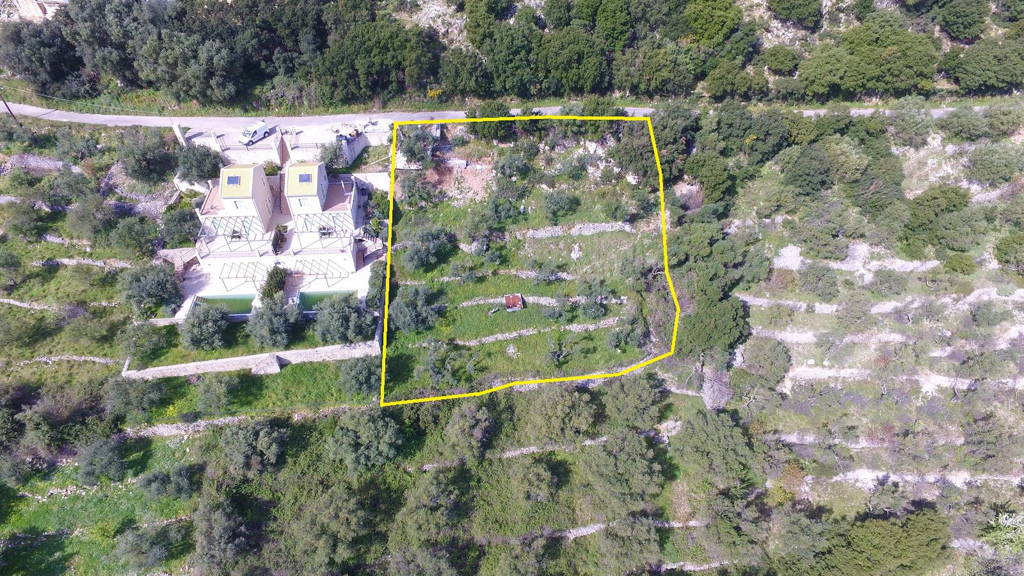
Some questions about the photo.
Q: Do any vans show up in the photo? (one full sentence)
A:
Yes, the photo shows a van.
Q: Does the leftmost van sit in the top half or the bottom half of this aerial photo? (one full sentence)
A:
The leftmost van is in the top half of the image.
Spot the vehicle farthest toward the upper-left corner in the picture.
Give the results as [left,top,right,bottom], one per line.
[234,111,271,145]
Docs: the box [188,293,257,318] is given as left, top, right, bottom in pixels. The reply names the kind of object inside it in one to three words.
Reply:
swimming pool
